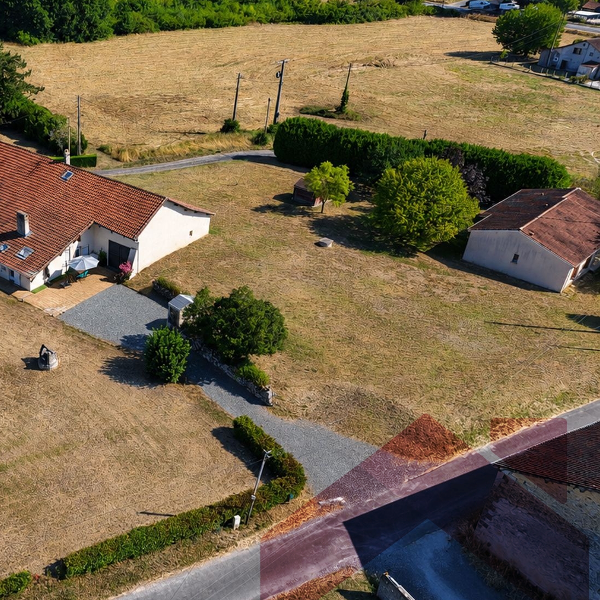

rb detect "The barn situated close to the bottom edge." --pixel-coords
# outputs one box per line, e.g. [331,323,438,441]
[473,423,600,600]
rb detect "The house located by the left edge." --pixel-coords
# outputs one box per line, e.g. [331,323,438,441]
[0,138,215,290]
